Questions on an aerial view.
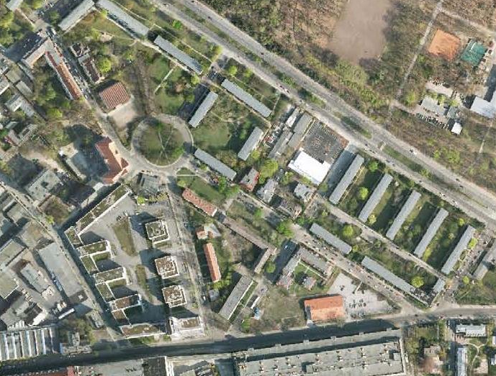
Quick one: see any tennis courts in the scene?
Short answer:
Yes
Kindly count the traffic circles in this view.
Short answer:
1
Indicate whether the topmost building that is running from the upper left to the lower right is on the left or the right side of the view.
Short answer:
left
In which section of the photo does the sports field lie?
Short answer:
top right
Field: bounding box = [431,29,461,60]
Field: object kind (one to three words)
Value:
tennis court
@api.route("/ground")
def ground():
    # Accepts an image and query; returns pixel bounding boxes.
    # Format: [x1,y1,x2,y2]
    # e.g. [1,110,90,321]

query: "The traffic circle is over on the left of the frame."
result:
[126,105,196,176]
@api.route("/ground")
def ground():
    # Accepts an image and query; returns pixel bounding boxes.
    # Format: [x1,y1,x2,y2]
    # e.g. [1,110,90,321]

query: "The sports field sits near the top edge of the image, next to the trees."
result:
[332,0,390,61]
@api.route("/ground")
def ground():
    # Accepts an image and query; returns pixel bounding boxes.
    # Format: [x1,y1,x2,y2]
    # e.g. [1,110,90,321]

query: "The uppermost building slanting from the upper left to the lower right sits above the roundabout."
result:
[98,0,151,37]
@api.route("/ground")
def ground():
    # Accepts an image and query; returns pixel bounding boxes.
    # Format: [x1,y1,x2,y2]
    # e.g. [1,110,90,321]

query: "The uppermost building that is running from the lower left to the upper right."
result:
[60,0,96,32]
